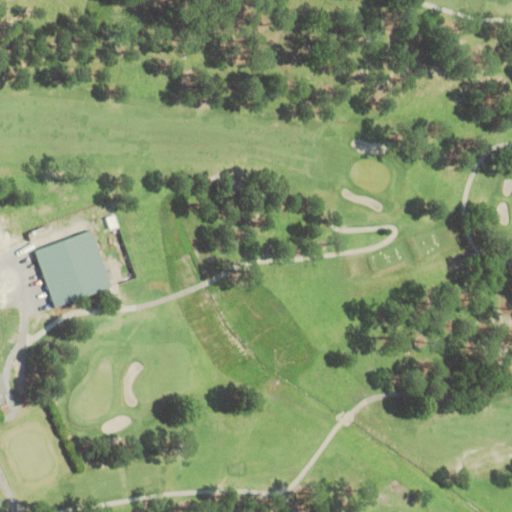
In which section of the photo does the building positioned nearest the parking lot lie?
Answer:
left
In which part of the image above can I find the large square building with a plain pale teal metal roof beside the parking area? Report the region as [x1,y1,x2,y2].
[36,230,110,308]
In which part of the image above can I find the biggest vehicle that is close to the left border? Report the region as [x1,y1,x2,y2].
[14,244,36,257]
